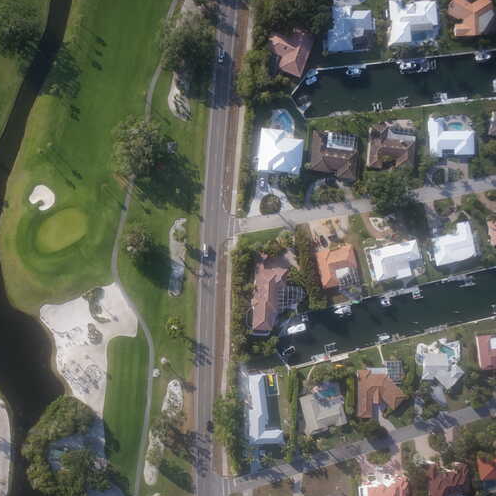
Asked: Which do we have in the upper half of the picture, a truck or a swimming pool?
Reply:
swimming pool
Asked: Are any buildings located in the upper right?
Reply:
Yes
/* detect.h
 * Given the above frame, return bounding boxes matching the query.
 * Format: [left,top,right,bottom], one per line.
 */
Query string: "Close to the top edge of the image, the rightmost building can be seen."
[447,0,496,36]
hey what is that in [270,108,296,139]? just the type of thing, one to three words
swimming pool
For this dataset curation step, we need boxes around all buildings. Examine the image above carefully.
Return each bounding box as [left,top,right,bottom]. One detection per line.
[249,373,285,445]
[428,117,475,157]
[474,335,496,370]
[368,475,411,496]
[447,0,496,36]
[475,457,496,482]
[389,1,438,44]
[252,255,292,332]
[368,241,423,281]
[258,129,302,173]
[421,352,461,390]
[269,28,312,78]
[328,6,371,52]
[428,461,471,496]
[356,370,409,417]
[310,131,360,179]
[299,390,351,436]
[433,222,478,264]
[313,242,360,289]
[365,128,417,169]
